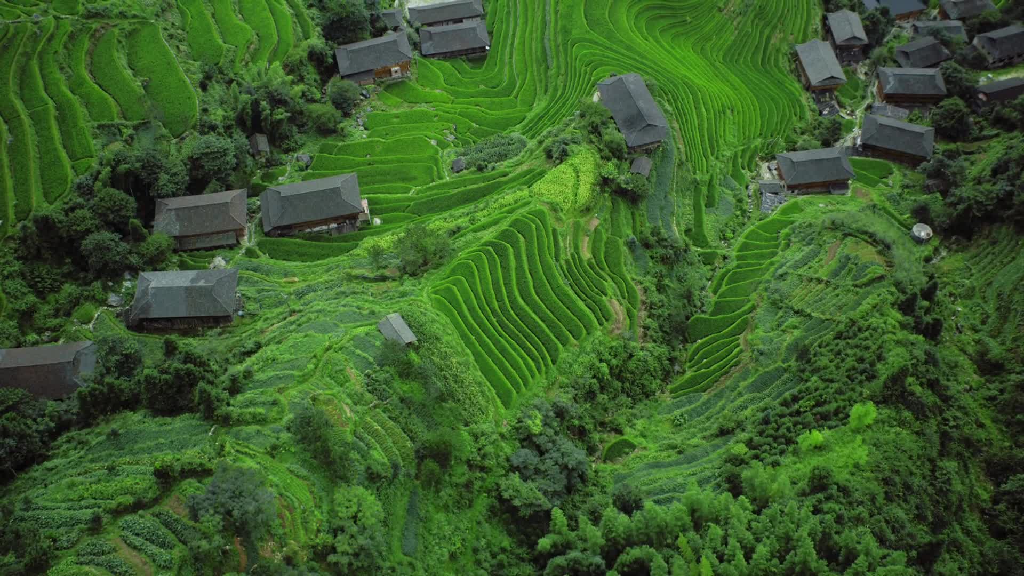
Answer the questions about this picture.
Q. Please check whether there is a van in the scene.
No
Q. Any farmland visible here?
Yes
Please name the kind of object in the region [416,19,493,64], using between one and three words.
house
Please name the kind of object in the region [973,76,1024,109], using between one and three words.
house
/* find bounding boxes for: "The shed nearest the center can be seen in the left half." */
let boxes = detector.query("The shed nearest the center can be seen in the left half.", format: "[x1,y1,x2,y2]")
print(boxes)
[378,312,416,358]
